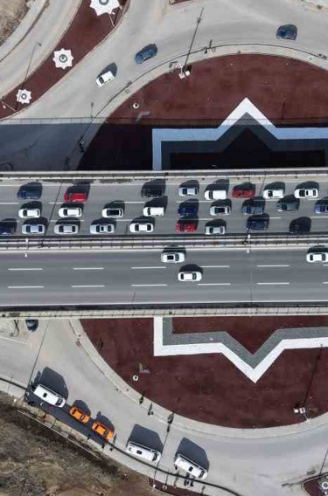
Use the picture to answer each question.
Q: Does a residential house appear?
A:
No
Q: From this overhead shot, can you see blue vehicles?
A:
Yes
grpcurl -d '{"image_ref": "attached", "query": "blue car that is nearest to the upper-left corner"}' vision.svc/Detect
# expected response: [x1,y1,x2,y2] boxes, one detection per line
[134,46,157,62]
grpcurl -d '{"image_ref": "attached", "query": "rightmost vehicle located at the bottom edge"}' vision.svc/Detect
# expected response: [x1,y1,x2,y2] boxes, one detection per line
[172,453,208,477]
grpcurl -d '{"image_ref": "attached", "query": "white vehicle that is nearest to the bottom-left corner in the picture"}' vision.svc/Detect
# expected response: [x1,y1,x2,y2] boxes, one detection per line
[30,381,67,408]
